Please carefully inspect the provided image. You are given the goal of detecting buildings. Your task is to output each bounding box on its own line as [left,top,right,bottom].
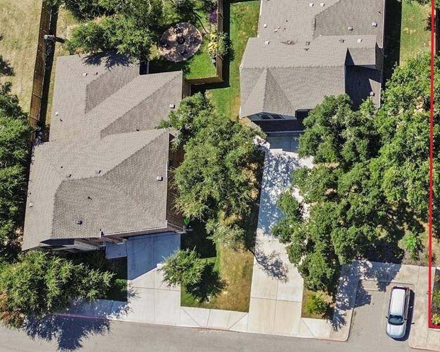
[23,53,189,256]
[240,0,384,135]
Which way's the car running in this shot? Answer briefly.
from top to bottom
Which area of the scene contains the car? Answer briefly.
bottom right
